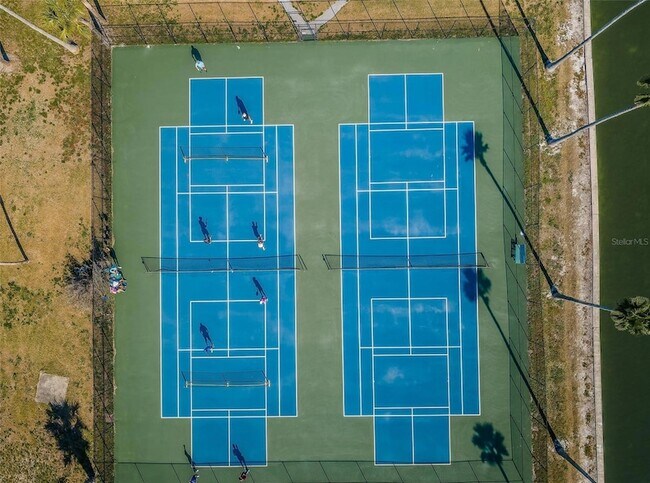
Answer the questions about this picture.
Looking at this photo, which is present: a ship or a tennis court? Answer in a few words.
tennis court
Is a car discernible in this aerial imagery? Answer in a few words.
No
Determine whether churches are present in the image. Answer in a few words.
No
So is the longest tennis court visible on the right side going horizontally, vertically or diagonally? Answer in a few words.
vertically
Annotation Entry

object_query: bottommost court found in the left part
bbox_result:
[190,300,268,467]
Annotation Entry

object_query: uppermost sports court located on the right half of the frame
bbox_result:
[368,74,447,239]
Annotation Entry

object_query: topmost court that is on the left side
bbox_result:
[189,77,265,242]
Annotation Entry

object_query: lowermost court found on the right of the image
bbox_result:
[372,298,451,466]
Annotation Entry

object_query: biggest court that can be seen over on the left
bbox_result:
[159,124,297,418]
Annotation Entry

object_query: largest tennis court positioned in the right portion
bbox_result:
[339,121,481,416]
